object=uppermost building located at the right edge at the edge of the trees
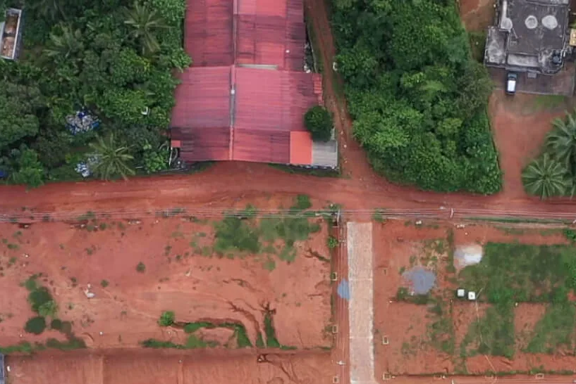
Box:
[486,0,569,79]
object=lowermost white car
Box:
[504,72,517,94]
